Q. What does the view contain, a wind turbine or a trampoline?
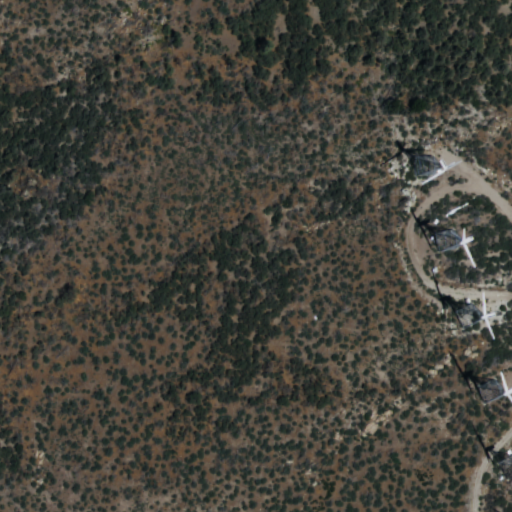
wind turbine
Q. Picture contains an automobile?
No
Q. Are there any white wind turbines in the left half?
No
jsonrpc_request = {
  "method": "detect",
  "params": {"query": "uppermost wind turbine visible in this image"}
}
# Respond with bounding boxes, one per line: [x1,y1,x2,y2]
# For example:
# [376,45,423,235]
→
[413,154,466,182]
